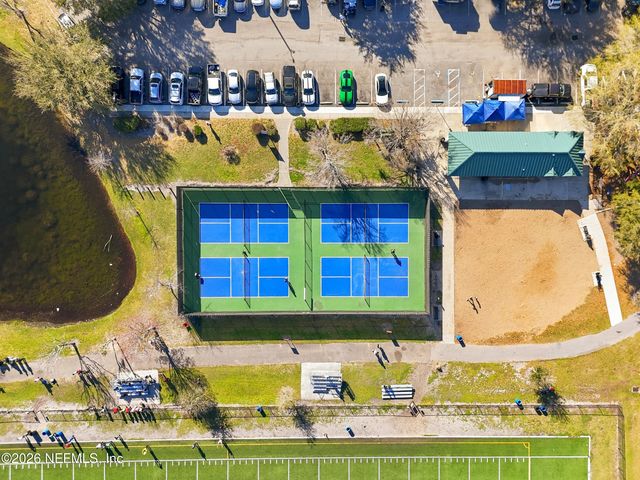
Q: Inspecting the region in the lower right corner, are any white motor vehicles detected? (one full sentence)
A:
No, no white motor vehicle appears in the lower right corner.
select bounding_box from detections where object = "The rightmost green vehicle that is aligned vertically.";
[339,71,354,105]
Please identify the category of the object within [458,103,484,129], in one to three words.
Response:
tent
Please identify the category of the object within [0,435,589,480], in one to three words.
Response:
sports field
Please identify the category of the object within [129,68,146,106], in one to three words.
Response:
vehicle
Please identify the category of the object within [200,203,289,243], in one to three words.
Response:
sports court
